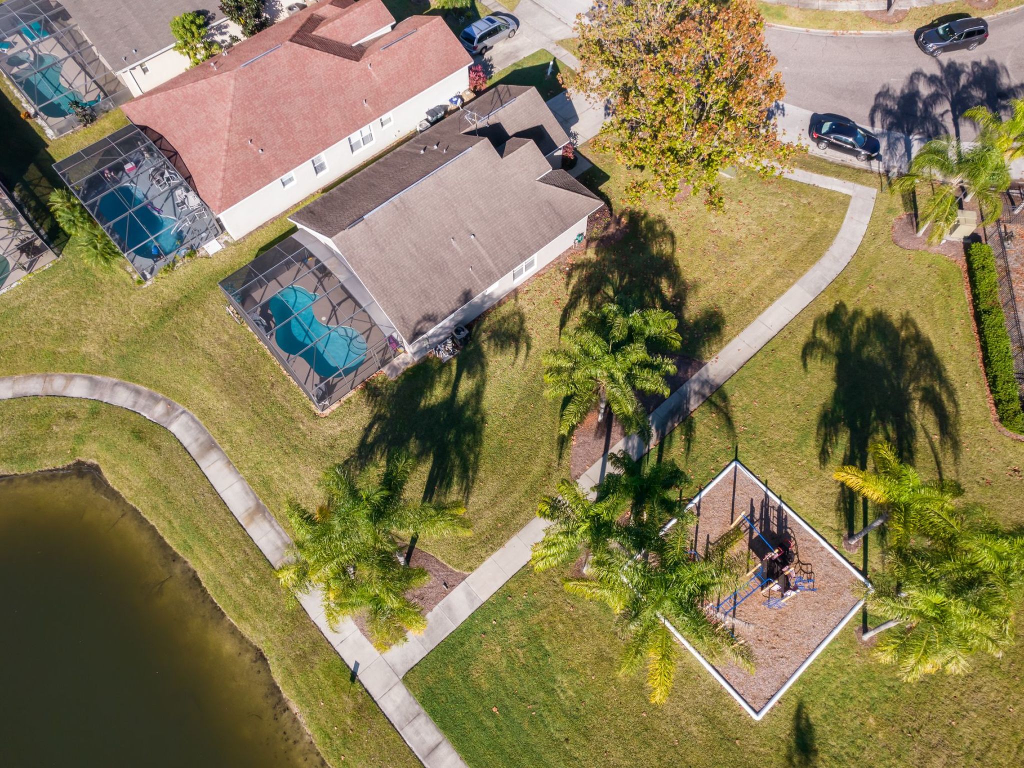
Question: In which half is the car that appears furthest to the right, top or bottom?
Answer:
top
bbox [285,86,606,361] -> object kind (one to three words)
house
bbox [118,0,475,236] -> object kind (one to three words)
house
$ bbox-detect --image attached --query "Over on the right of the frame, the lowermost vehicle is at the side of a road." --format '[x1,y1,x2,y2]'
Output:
[811,121,879,162]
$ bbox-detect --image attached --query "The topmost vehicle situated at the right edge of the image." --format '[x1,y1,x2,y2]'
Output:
[919,18,988,57]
